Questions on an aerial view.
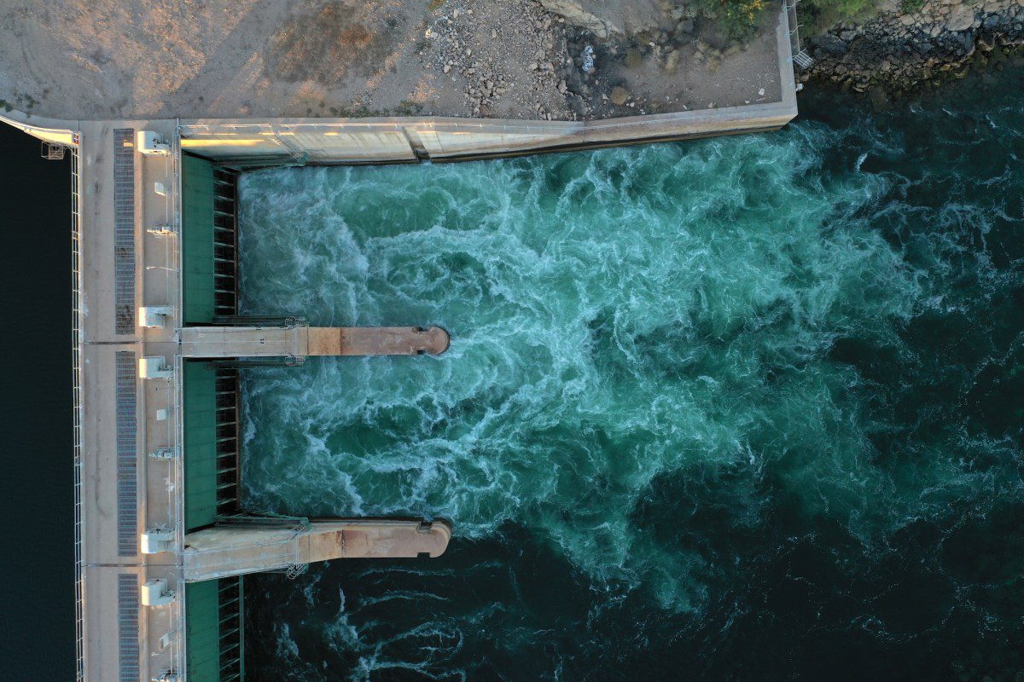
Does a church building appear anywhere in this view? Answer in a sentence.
No, there appears to be no church building in this shot.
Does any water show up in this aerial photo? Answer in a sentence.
Yes, water shows up in the scene.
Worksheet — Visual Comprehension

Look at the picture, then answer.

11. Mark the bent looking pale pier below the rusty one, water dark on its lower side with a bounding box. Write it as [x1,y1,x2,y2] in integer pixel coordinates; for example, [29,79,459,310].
[184,519,452,581]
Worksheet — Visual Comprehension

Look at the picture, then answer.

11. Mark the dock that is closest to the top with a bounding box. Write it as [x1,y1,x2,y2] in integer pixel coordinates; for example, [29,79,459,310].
[183,326,452,356]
